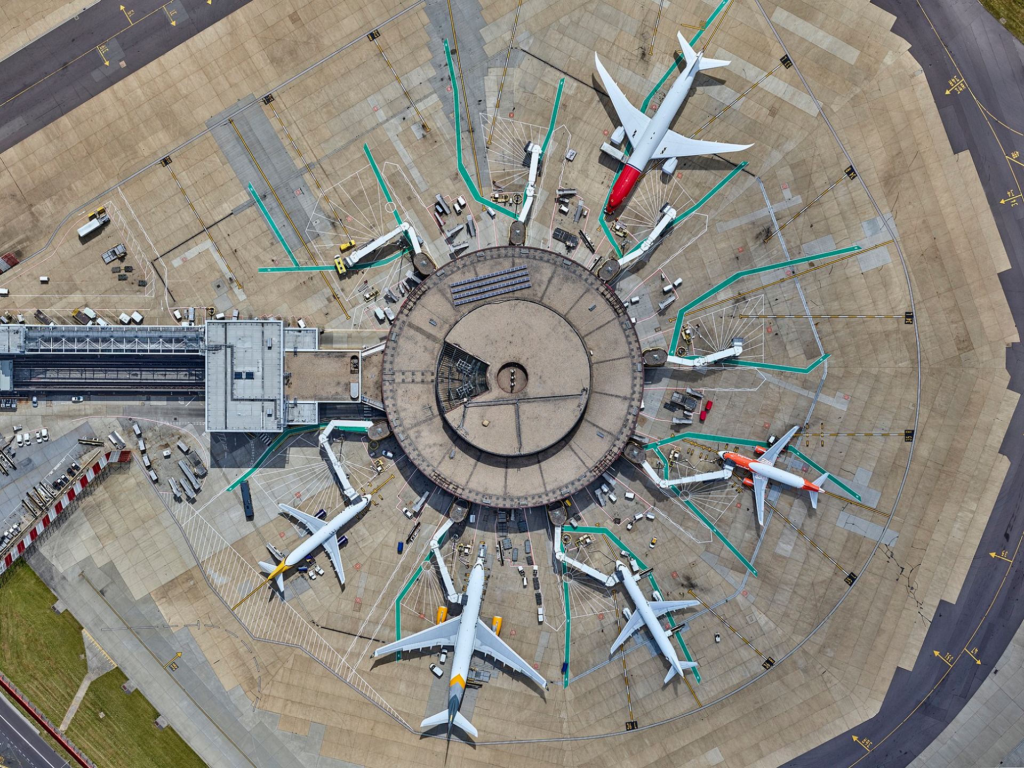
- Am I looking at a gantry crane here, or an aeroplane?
aeroplane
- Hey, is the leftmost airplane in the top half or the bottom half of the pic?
bottom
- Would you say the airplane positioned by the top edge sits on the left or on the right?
right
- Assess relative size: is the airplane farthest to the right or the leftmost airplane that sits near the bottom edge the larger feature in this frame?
the leftmost airplane that sits near the bottom edge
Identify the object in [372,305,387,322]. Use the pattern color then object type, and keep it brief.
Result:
white vehicle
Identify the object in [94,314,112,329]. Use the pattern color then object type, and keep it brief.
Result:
white vehicle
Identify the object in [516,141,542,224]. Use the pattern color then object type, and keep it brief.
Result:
white jet bridge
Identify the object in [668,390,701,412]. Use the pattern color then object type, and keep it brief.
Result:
gray work vehicle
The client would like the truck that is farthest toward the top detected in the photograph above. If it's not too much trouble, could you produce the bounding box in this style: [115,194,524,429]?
[601,143,631,164]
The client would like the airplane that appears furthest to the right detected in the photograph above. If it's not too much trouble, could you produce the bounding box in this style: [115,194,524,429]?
[718,427,829,529]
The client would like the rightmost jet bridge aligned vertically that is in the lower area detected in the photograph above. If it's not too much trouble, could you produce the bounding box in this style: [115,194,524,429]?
[429,519,469,602]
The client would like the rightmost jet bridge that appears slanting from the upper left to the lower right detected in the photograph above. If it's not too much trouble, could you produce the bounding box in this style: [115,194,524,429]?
[553,524,626,586]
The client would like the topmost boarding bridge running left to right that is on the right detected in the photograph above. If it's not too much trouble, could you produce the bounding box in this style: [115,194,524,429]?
[665,335,745,367]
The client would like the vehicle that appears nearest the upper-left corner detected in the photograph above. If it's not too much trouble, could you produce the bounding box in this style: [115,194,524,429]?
[73,213,112,239]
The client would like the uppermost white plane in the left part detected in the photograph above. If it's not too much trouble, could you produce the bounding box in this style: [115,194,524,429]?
[258,495,372,595]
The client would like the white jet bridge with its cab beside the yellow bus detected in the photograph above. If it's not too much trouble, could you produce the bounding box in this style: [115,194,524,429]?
[344,221,426,275]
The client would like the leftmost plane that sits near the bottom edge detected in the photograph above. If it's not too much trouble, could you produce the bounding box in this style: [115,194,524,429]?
[369,558,551,745]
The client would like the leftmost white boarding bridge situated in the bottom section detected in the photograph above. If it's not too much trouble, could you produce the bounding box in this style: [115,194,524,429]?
[317,418,372,509]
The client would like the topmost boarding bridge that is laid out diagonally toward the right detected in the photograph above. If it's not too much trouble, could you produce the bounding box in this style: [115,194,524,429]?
[618,200,676,266]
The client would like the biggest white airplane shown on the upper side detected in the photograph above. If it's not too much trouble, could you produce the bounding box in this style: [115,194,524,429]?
[595,30,755,213]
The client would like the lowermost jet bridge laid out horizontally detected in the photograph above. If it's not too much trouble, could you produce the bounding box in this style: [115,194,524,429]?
[640,455,741,490]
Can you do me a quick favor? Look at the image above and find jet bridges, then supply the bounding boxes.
[640,455,741,490]
[553,524,626,586]
[665,335,745,367]
[429,519,469,602]
[516,141,542,224]
[618,200,676,266]
[317,418,372,509]
[344,221,426,275]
